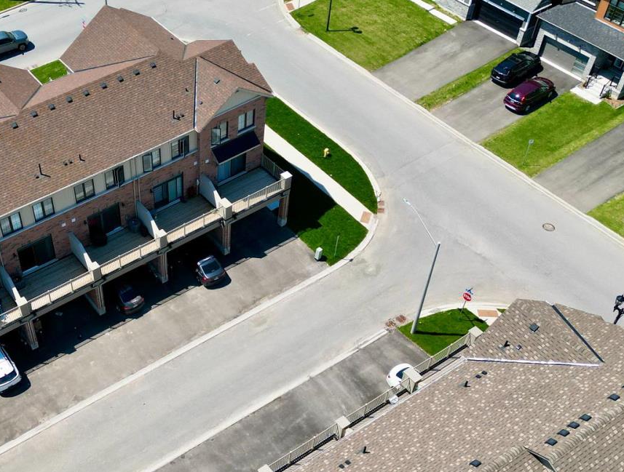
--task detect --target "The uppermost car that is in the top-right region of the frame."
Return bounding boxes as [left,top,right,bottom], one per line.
[489,53,546,88]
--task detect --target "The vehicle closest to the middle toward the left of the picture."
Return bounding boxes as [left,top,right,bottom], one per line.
[170,238,227,285]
